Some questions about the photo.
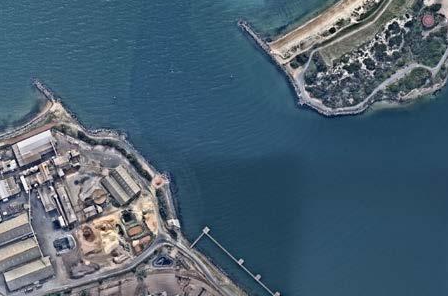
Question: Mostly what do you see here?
water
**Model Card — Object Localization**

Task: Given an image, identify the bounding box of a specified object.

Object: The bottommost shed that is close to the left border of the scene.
[2,257,55,292]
